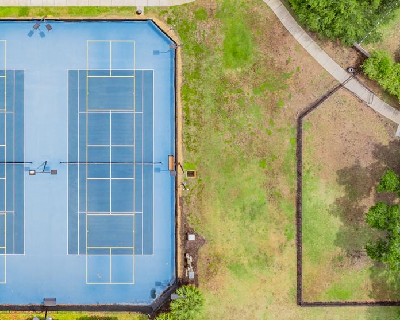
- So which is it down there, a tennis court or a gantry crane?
tennis court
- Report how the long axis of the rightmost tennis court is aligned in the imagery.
up and down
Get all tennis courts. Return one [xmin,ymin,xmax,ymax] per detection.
[0,40,25,284]
[68,40,154,284]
